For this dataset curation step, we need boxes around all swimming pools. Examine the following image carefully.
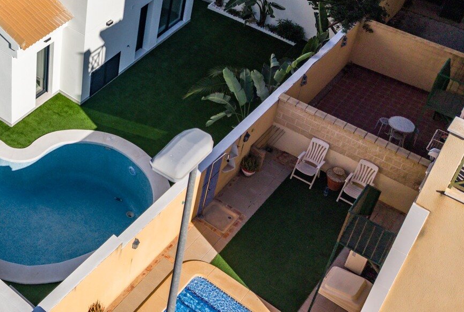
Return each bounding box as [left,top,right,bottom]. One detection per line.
[170,260,274,312]
[0,130,167,285]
